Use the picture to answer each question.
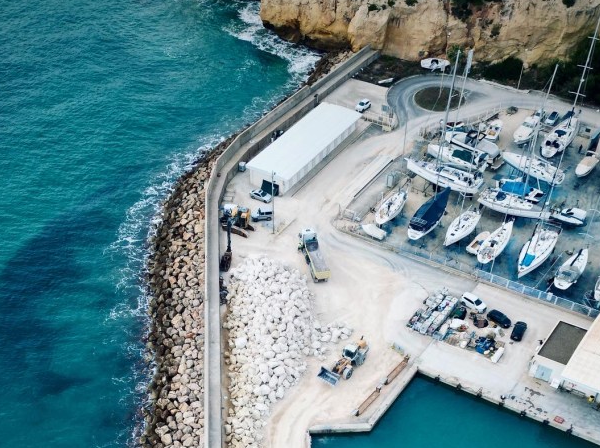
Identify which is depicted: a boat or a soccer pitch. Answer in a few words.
boat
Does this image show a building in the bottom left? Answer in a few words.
No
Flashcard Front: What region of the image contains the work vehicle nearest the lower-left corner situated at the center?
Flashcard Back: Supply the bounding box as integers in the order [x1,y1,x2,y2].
[221,205,258,263]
